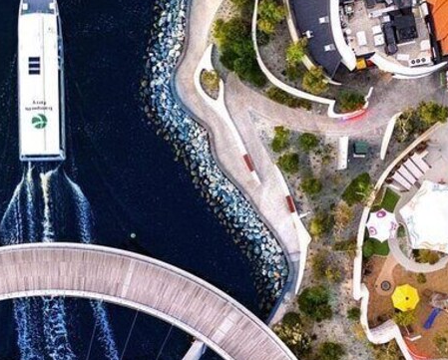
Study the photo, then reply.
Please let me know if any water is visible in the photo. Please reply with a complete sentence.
Yes, water shows up in the scene.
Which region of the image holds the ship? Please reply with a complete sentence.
You can find the ship in the top left area of the picture.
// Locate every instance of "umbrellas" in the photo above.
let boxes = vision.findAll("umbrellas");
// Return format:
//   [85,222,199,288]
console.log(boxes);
[366,210,397,240]
[391,284,416,310]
